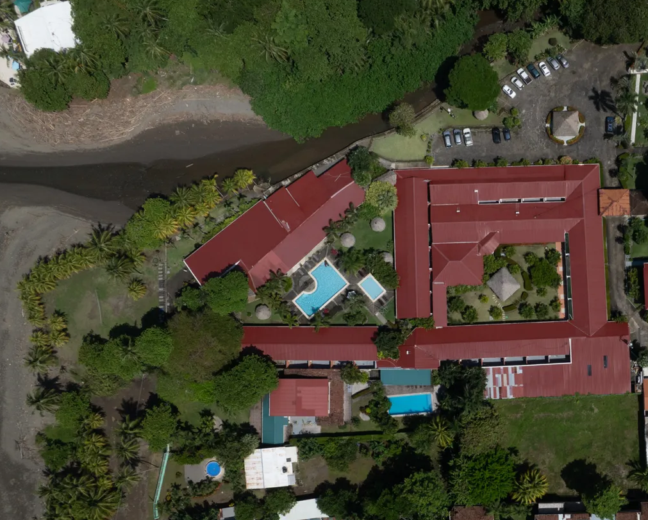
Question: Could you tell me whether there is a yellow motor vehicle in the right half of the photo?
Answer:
No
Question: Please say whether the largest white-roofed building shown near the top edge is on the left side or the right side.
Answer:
left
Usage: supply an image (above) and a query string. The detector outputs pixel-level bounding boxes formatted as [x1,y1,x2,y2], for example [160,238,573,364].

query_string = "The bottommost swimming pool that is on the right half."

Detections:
[387,391,435,417]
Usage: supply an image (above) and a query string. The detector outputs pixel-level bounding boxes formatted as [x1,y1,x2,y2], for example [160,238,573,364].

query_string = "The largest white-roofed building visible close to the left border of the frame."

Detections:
[15,2,80,59]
